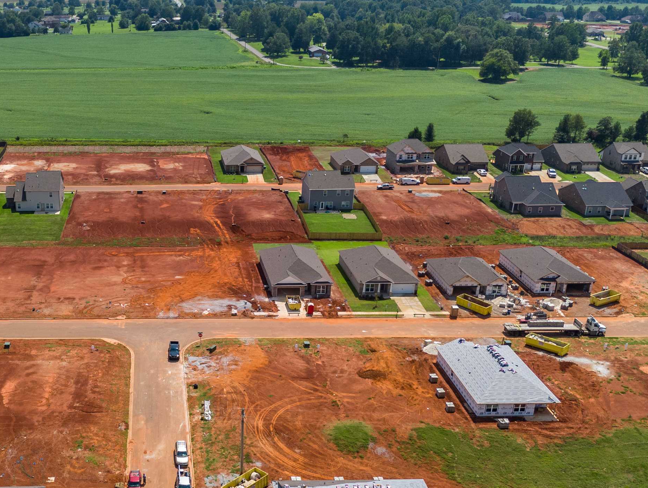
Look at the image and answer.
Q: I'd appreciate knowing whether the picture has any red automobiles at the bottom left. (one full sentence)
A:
Yes, a red automobile appears at the bottom left.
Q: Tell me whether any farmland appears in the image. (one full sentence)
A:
Yes, some farmland is visible.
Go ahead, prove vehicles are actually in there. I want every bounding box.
[376,181,395,188]
[126,466,143,488]
[450,176,471,184]
[499,313,601,335]
[175,466,193,488]
[518,306,545,322]
[167,341,181,358]
[173,438,190,463]
[399,177,418,185]
[545,169,559,177]
[476,169,491,176]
